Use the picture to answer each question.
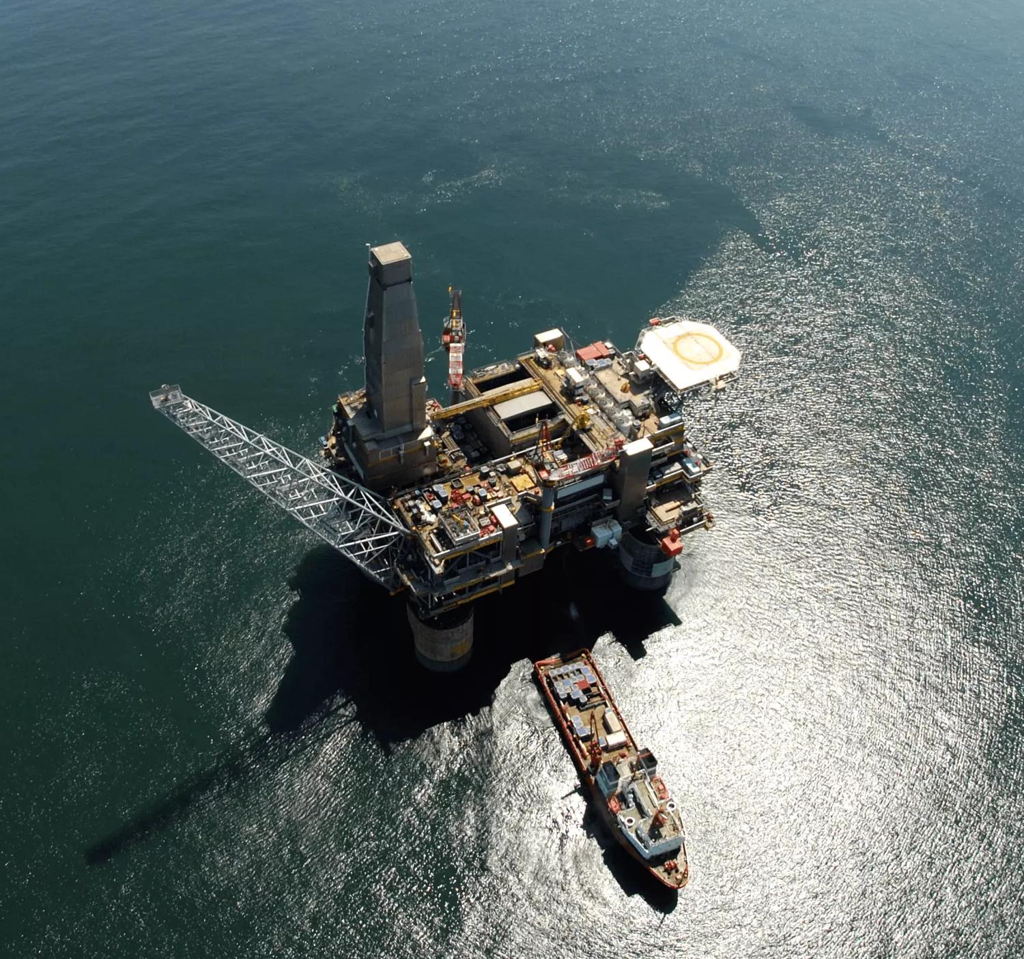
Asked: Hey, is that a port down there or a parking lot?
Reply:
port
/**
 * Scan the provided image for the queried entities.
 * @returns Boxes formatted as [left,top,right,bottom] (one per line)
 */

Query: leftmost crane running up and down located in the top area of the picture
[439,289,464,418]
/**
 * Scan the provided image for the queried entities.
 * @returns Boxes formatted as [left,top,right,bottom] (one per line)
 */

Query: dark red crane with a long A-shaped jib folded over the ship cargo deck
[587,710,605,771]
